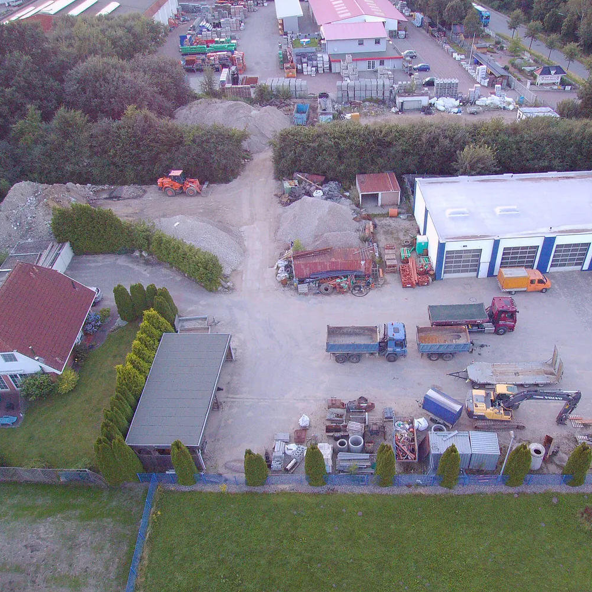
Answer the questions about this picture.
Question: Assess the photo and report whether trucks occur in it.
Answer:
Yes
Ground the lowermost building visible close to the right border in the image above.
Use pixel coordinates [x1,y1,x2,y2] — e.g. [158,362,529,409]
[414,170,592,279]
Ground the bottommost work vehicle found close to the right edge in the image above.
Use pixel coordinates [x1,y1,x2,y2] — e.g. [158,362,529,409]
[464,382,578,431]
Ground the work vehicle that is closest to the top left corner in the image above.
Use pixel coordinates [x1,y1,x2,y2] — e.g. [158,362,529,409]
[158,168,211,197]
